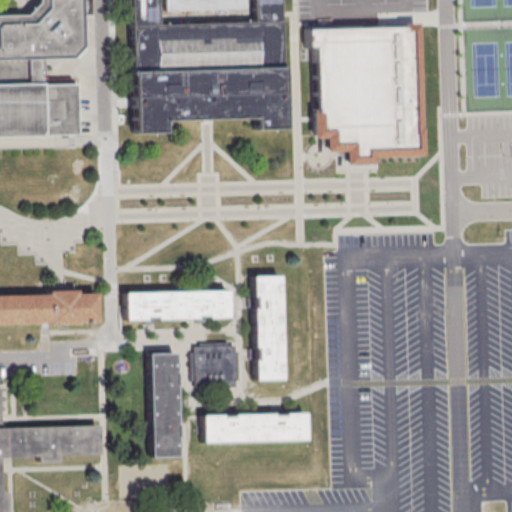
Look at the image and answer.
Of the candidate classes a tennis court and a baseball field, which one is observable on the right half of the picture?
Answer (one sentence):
The one visible on the right half of the picture is a tennis court.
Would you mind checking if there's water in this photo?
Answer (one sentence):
No, there is no water in the image.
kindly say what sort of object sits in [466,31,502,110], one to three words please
tennis court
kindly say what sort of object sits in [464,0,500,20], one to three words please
tennis court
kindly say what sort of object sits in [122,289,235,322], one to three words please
building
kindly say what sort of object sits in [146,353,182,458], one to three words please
building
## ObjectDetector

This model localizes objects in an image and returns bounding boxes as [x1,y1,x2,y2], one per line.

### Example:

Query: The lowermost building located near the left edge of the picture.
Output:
[0,426,102,512]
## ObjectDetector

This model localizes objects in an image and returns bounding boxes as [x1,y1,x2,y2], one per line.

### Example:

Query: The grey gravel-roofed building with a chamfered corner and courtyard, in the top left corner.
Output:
[0,0,86,60]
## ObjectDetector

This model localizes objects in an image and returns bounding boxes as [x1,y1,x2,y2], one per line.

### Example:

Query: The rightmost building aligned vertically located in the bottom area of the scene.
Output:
[251,274,288,382]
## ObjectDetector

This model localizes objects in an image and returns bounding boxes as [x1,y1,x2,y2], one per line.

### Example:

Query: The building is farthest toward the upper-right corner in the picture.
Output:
[305,24,428,165]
